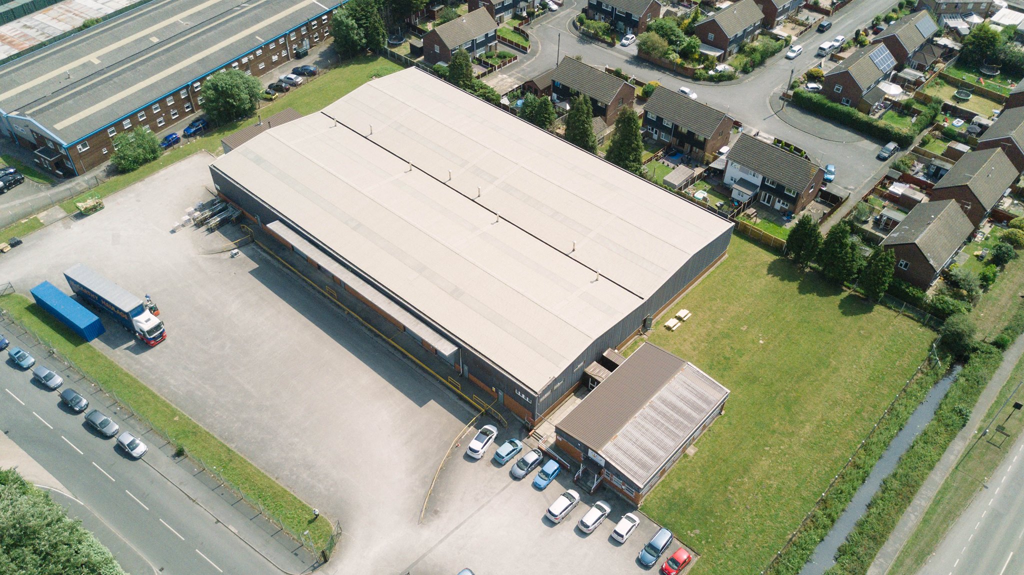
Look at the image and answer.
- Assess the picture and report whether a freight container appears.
Yes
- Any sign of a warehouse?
Yes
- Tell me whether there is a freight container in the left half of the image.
Yes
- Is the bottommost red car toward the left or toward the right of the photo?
right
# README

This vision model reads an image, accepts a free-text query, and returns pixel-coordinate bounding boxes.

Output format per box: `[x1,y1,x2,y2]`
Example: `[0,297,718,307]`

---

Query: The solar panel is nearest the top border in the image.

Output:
[912,12,936,37]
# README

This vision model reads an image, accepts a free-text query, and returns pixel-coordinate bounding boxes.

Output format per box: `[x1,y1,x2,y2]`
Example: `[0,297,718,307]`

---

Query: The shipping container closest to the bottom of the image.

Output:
[30,281,106,342]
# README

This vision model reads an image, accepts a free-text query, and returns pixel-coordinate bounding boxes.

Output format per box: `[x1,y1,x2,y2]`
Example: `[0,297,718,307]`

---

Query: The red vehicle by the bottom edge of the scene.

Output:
[662,545,694,575]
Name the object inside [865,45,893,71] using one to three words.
solar panel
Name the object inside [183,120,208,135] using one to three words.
car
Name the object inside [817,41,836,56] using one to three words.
vehicle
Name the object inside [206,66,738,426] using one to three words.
warehouse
